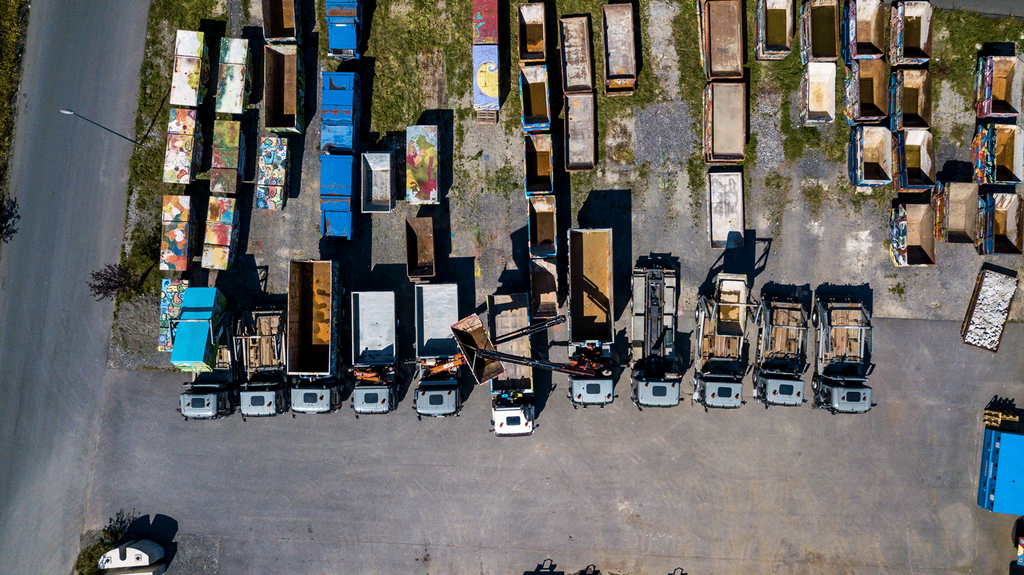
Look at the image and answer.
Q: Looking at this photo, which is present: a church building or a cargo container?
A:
cargo container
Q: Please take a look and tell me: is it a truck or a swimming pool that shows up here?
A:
truck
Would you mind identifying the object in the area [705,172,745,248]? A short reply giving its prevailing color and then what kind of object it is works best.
white shipping container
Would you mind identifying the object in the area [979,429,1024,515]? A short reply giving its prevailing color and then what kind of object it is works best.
blue shipping container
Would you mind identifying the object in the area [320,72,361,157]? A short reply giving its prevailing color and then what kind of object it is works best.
blue shipping container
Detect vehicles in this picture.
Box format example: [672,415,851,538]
[487,393,541,447]
[693,297,759,419]
[751,295,811,416]
[629,266,684,418]
[164,307,236,430]
[286,351,341,424]
[813,302,877,424]
[474,344,624,415]
[409,283,467,426]
[348,290,399,425]
[230,305,291,428]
